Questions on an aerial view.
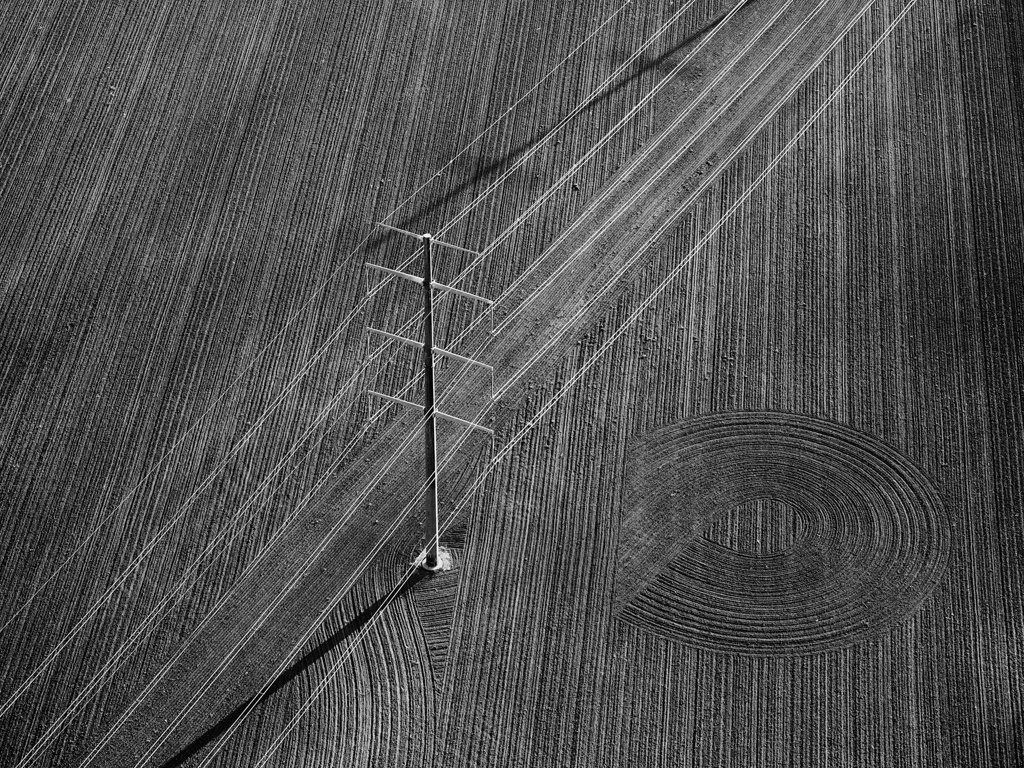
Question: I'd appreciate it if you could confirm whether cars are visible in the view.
No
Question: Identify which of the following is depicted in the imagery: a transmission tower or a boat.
transmission tower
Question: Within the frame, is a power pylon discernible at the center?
Yes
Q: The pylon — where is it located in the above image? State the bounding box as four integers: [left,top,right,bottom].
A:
[365,224,497,570]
